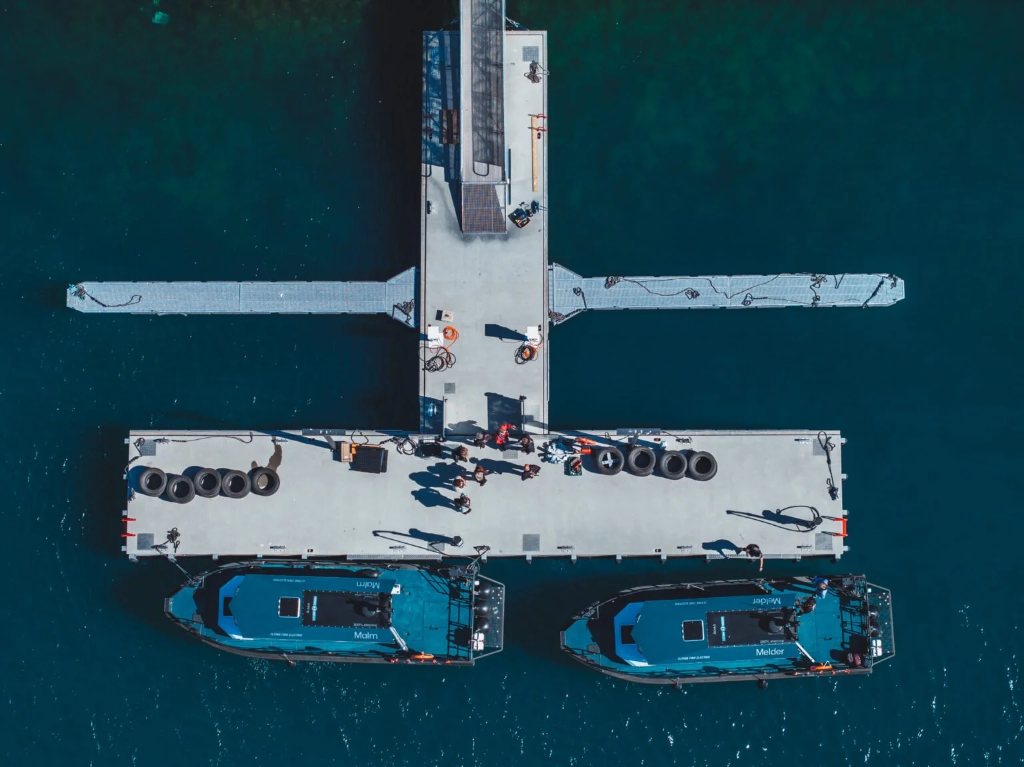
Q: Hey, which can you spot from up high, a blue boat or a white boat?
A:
blue boat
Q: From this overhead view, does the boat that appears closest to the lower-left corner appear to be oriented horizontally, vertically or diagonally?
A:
horizontally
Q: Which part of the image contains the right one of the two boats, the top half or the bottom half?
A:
bottom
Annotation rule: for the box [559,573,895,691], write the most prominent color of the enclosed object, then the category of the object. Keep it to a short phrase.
blue boat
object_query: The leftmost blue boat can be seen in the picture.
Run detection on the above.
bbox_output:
[164,559,505,667]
